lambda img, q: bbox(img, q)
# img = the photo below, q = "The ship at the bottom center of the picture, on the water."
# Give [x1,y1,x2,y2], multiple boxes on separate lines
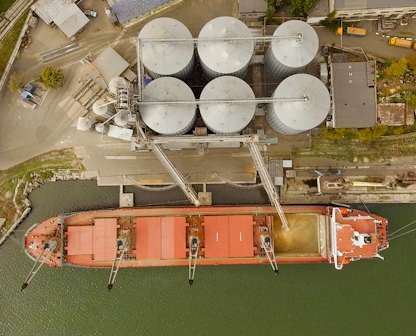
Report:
[21,205,391,289]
